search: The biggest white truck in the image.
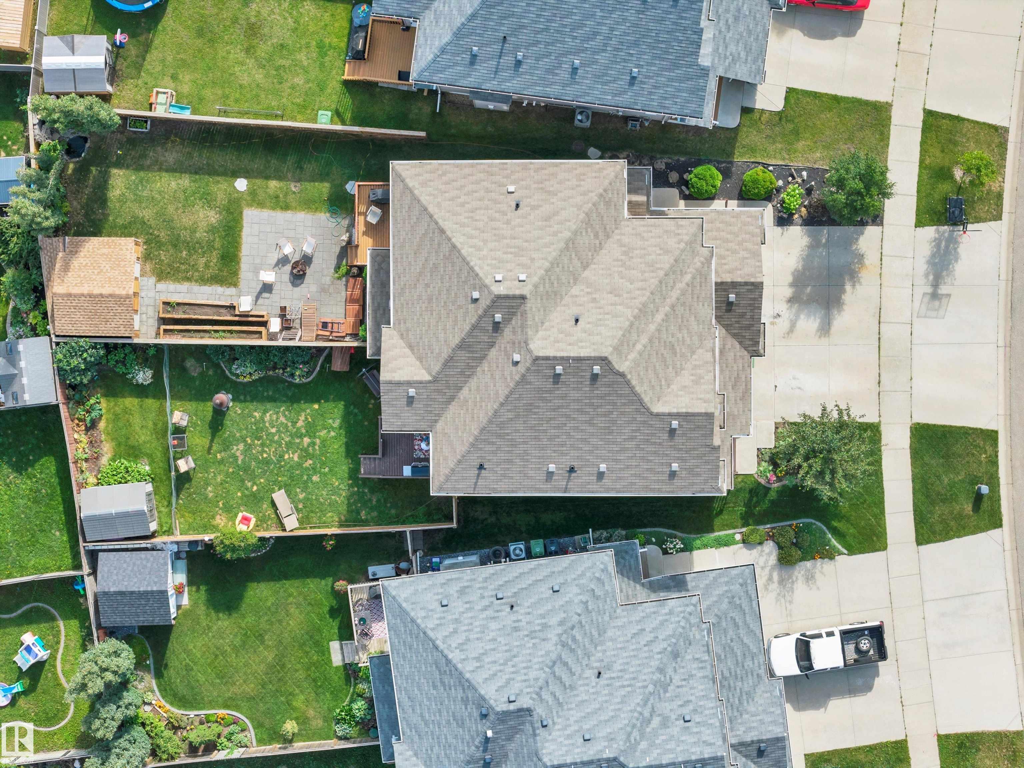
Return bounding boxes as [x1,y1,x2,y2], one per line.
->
[765,619,892,678]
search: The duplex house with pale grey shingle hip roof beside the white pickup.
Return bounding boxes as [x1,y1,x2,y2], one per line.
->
[367,531,797,768]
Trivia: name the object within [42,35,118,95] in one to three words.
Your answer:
shed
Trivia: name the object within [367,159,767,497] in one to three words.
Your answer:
house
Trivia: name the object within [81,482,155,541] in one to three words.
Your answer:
shed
